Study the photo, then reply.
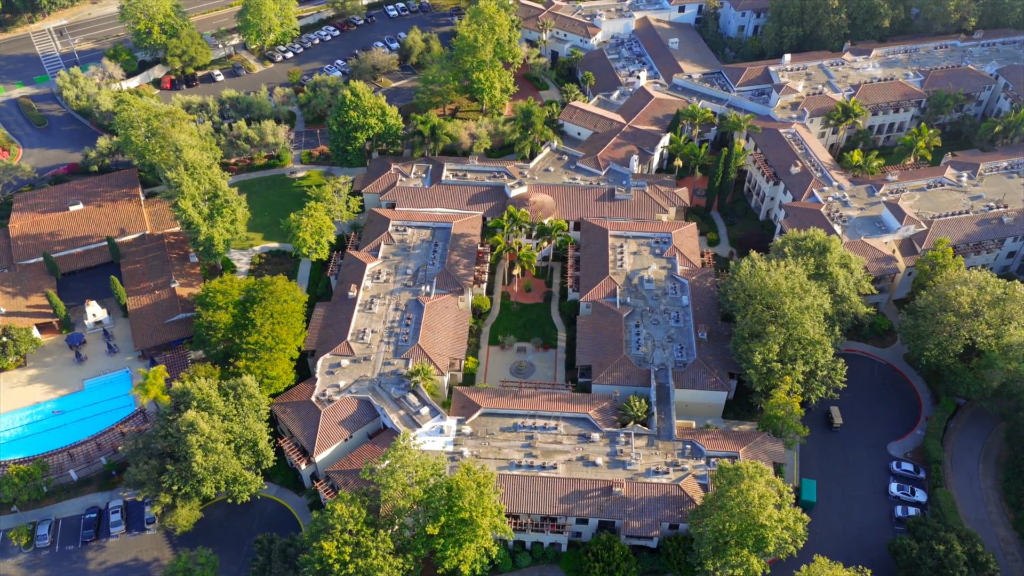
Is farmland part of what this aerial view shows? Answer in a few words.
No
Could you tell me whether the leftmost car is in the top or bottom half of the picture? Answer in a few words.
bottom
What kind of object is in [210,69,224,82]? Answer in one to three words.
vehicle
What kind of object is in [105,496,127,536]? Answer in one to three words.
car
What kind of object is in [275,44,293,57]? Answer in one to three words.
vehicle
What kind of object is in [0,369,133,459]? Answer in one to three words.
swimming pool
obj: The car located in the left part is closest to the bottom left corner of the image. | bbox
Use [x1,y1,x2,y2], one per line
[32,511,57,552]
